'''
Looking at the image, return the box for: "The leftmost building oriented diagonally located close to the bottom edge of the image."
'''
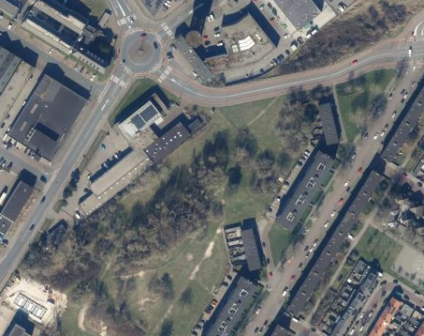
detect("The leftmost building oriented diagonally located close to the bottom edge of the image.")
[206,275,259,336]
